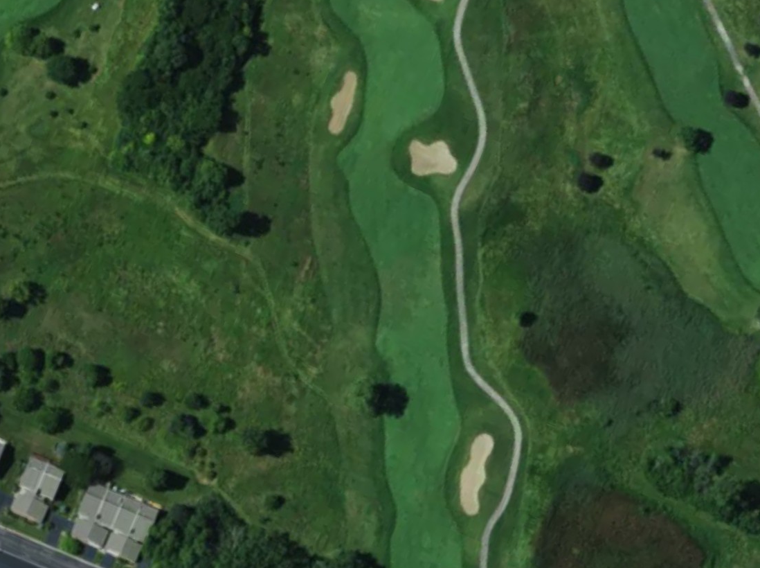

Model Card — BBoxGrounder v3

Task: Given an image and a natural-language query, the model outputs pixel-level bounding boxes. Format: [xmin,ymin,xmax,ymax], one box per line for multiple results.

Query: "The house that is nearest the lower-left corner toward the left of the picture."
[9,455,66,524]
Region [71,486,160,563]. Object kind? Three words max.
house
